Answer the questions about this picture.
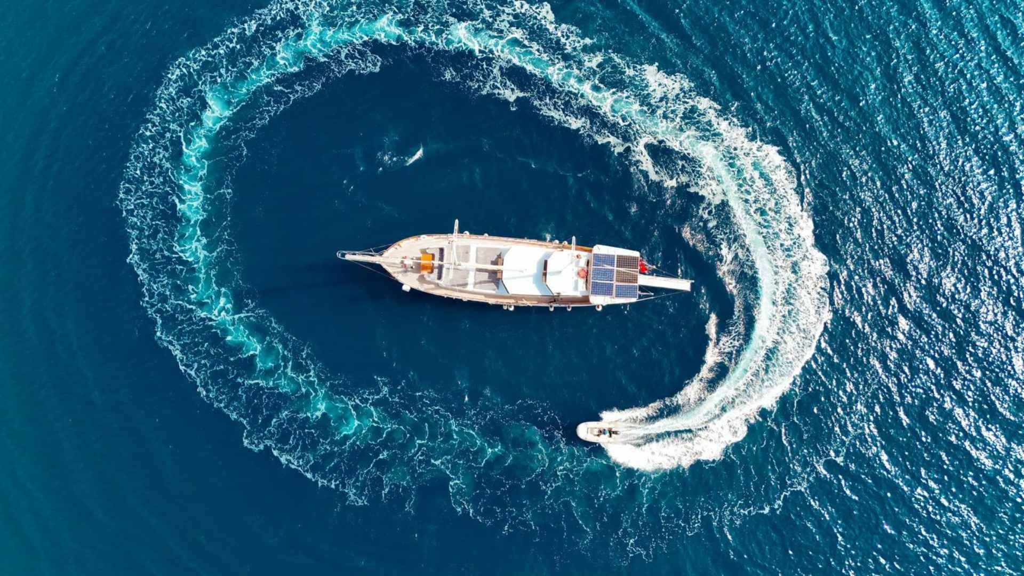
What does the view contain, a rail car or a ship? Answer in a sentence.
There is a ship in the scene.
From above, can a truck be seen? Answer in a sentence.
No, no truck is visible in the scene.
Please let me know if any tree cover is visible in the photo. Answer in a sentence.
No, the scene doesn't show any tree cover.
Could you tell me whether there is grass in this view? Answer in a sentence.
No, the scene doesn't show any grass.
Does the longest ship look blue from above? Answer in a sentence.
No, from above the longest ship looks white.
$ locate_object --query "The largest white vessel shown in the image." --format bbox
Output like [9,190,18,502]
[338,219,693,307]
